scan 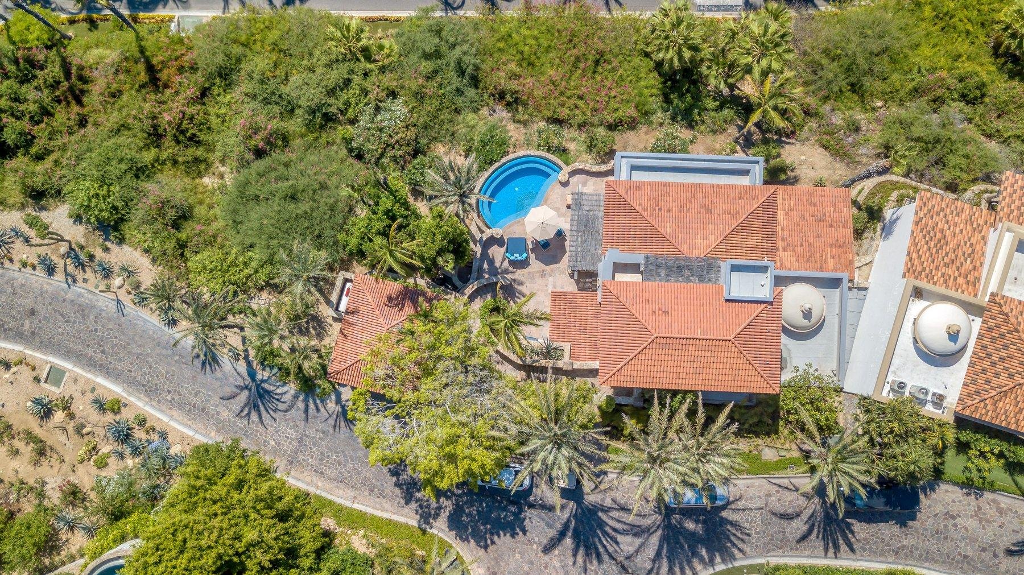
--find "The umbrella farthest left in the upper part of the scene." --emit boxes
[525,205,560,241]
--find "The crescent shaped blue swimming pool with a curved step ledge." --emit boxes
[481,157,562,229]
